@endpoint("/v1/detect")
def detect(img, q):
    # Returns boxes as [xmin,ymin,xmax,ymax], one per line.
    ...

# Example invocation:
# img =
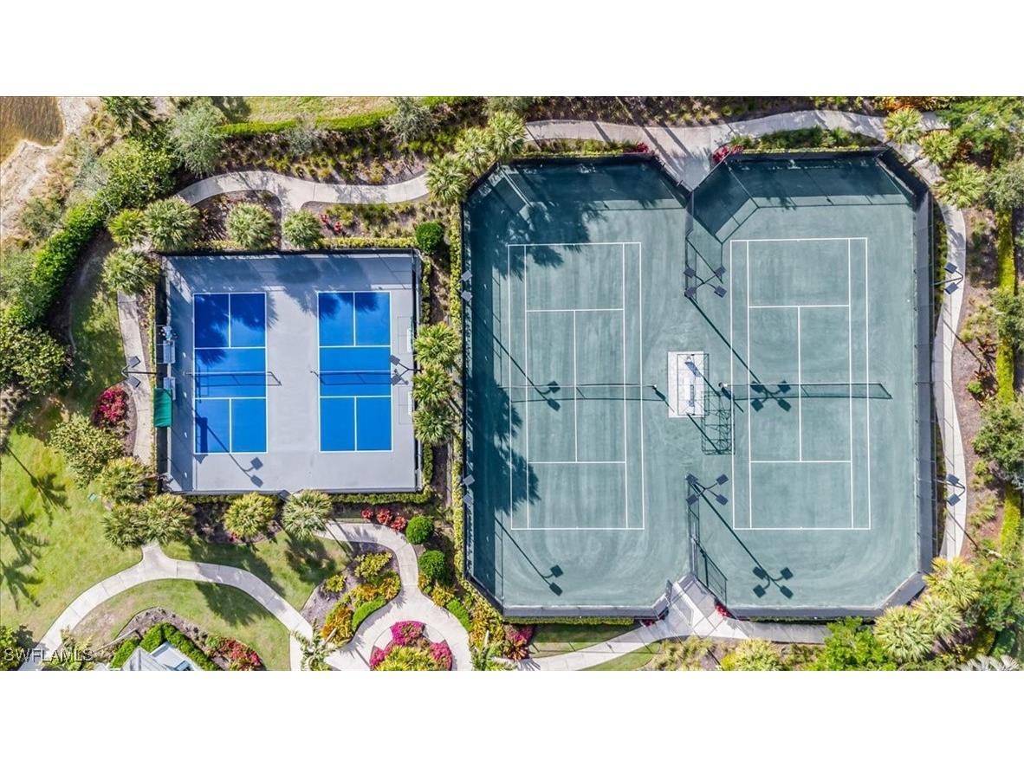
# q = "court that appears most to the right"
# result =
[686,157,919,608]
